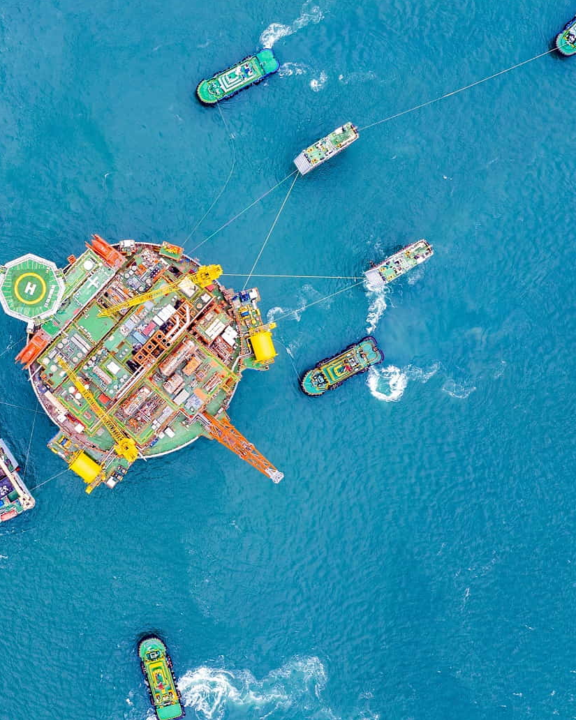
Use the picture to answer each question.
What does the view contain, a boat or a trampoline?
boat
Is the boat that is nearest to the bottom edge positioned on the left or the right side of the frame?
left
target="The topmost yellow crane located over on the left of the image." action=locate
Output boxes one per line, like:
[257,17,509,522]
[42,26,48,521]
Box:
[98,258,232,317]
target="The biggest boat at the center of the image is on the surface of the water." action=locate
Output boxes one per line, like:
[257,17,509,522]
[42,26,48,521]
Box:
[301,337,385,395]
